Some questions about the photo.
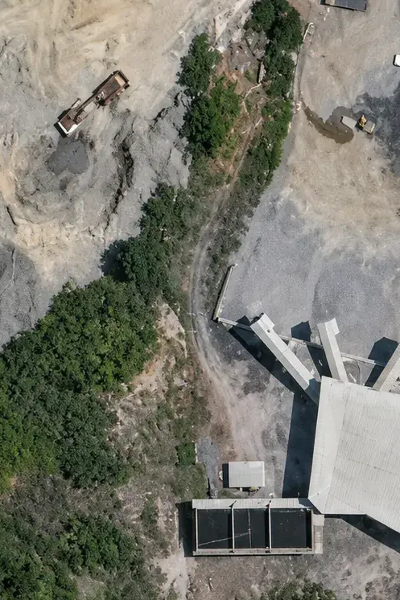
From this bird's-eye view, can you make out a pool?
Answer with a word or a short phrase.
No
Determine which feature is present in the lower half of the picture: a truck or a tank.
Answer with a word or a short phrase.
tank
